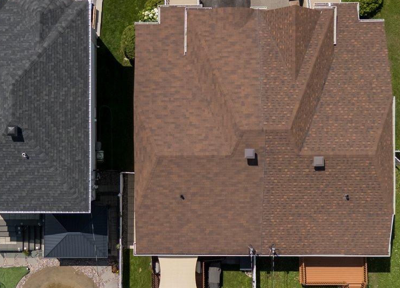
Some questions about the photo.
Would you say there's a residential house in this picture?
Yes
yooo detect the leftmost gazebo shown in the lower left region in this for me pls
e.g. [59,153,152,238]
[42,202,108,259]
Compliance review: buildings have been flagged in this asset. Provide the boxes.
[0,0,106,212]
[131,3,396,260]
